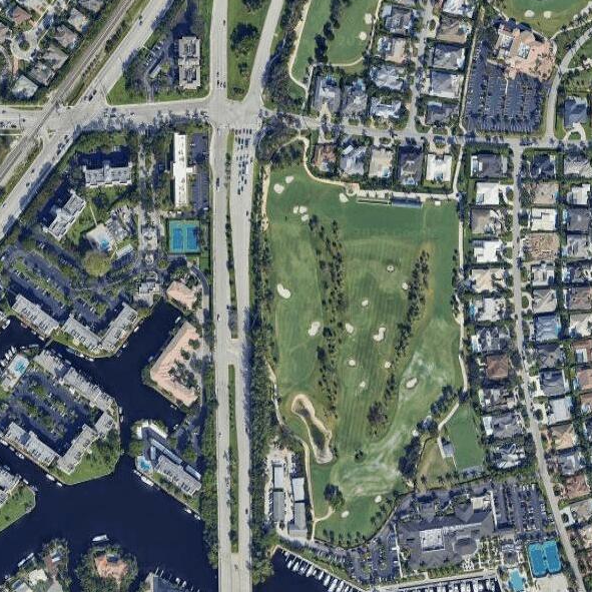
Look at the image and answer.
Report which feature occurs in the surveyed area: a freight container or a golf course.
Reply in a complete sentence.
It is a golf course that can be seen here.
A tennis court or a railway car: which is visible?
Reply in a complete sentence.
I can see a tennis court in this picture.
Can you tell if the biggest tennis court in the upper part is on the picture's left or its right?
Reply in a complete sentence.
The biggest tennis court in the upper part appears in the left half of the scene.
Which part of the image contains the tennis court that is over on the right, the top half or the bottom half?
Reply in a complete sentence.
You can find the tennis court that is over on the right in the bottom half.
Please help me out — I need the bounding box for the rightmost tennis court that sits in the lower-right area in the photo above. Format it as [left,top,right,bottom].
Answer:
[528,539,562,577]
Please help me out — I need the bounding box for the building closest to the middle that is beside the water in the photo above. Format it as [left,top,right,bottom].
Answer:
[167,281,196,311]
